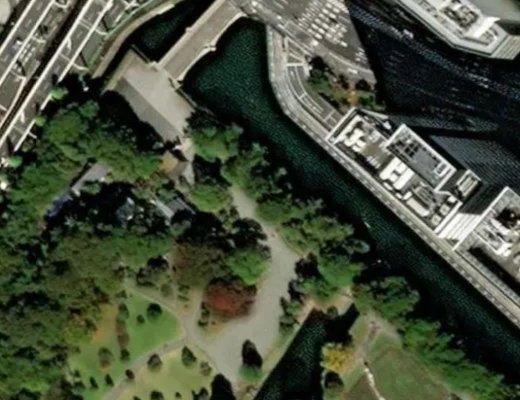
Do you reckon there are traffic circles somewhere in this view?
No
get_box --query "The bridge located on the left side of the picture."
[148,0,248,85]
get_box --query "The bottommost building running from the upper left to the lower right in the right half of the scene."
[327,105,495,240]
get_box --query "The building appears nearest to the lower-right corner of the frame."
[451,190,520,310]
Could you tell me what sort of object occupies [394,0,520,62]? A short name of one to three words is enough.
building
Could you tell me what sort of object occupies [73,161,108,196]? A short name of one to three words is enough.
house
